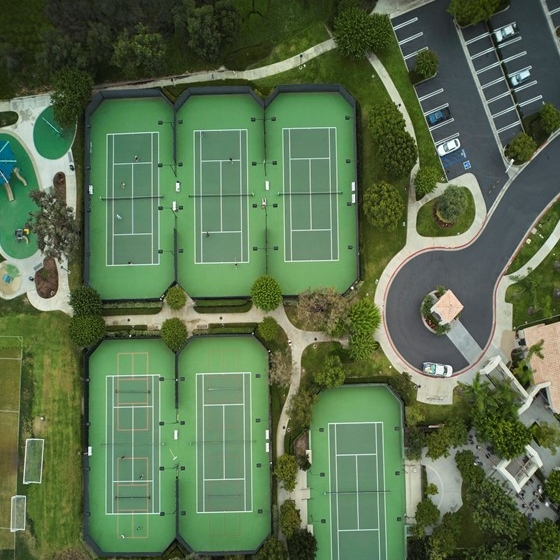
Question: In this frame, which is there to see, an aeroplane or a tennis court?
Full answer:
The one in the frame is a tennis court.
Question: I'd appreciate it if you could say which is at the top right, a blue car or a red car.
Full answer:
You can see a blue car at the top right.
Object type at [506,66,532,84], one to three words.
car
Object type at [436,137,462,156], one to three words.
car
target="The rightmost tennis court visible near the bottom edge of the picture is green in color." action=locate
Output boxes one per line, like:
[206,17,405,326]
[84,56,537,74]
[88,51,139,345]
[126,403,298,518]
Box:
[308,385,406,560]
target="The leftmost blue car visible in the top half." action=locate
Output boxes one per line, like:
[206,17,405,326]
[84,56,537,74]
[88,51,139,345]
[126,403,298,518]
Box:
[424,106,450,125]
